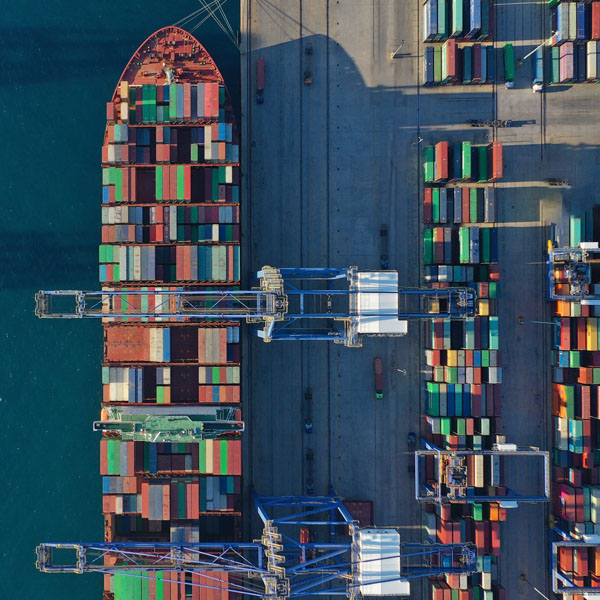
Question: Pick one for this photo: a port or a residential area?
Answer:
port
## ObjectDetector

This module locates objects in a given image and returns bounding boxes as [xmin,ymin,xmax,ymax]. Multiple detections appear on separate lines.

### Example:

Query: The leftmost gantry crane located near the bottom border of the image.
[36,478,478,600]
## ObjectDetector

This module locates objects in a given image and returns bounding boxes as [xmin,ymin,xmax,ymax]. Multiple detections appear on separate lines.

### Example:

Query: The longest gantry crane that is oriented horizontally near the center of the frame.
[34,265,475,348]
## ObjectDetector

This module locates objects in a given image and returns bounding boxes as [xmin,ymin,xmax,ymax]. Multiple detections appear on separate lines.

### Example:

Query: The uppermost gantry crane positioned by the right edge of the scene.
[544,243,600,308]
